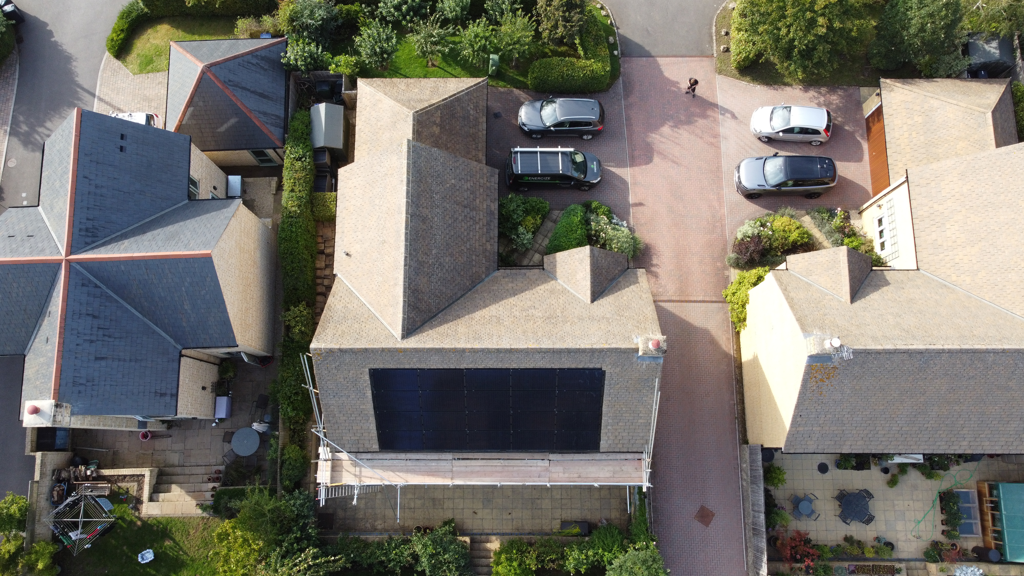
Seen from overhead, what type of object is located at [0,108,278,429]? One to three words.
house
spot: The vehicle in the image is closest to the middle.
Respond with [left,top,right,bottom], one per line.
[505,146,603,193]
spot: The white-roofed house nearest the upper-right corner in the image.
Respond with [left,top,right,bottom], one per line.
[736,76,1024,456]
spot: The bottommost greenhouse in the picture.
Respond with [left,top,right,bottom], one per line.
[978,482,1024,572]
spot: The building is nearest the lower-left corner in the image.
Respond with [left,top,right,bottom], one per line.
[42,428,80,451]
